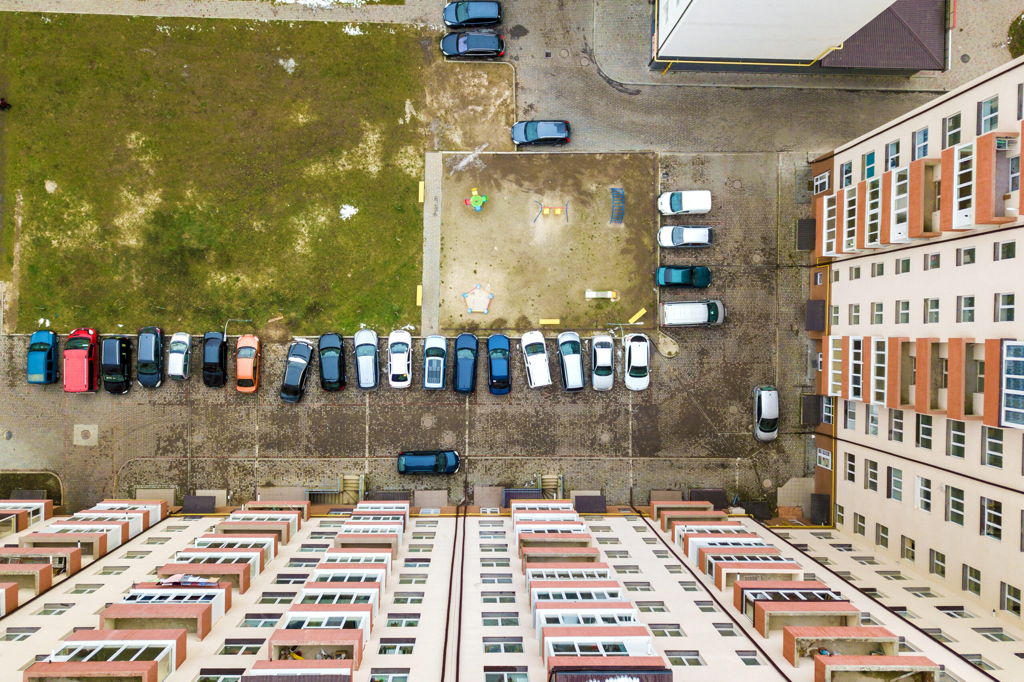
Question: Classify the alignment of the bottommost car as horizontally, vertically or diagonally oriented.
horizontally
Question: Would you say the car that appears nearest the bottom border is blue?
Yes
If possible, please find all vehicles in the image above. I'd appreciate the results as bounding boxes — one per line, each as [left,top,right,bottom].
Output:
[656,222,712,250]
[165,332,196,379]
[443,0,502,29]
[624,334,653,390]
[656,262,712,290]
[232,334,262,393]
[589,336,617,390]
[656,299,723,329]
[440,28,505,60]
[751,385,782,441]
[420,335,450,389]
[520,330,552,388]
[398,448,460,478]
[351,328,383,391]
[511,116,570,147]
[132,326,165,388]
[100,334,134,394]
[316,333,347,391]
[556,332,585,392]
[65,328,102,391]
[199,332,229,387]
[451,333,480,395]
[385,330,414,387]
[657,188,710,216]
[279,341,314,402]
[484,334,513,395]
[29,330,64,382]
